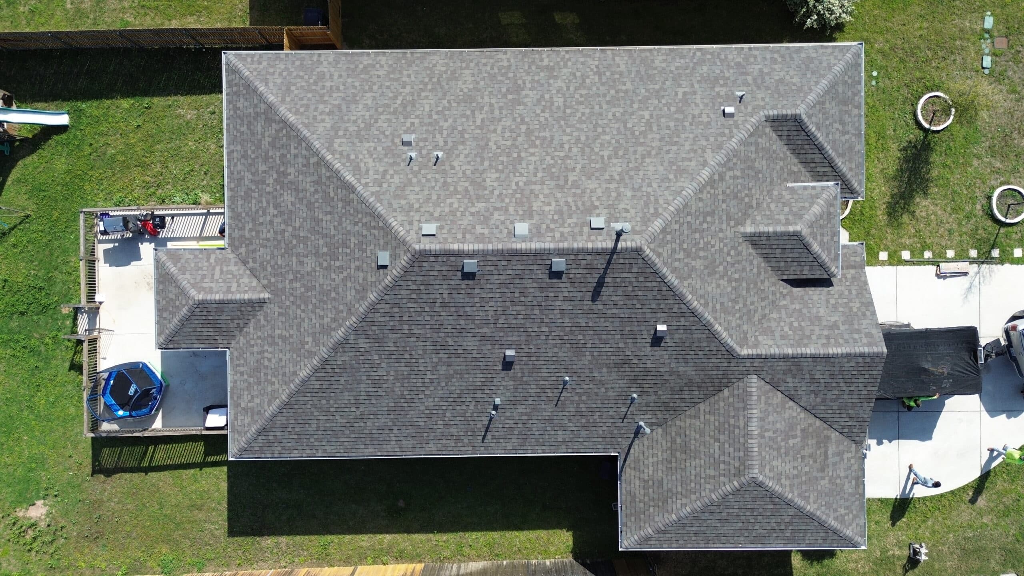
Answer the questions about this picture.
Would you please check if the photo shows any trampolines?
Yes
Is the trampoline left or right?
left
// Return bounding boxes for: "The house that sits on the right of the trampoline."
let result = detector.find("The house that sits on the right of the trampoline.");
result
[155,42,887,550]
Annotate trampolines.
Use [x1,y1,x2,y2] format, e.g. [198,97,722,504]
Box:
[87,362,167,422]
